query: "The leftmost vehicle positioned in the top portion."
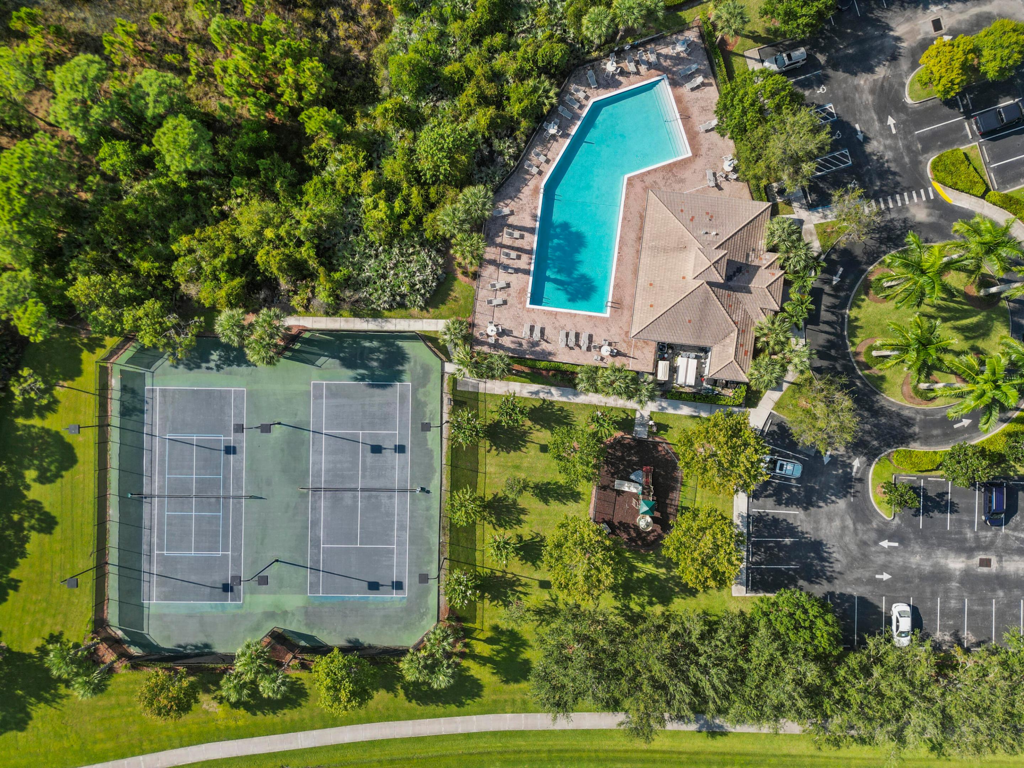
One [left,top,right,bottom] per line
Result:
[762,45,808,70]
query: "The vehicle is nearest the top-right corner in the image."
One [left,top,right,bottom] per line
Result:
[971,104,1024,136]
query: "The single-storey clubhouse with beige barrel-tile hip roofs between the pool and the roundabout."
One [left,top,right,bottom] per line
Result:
[631,188,784,382]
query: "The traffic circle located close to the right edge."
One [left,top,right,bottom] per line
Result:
[846,243,1012,408]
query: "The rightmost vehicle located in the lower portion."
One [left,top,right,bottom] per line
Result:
[980,481,1007,526]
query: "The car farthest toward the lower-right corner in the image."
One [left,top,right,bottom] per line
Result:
[889,602,912,646]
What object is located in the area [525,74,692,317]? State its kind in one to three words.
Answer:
swimming pool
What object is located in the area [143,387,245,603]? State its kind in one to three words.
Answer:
tennis court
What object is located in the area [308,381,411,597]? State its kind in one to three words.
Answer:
tennis court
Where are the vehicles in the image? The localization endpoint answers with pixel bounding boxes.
[889,602,912,646]
[763,455,802,477]
[980,481,1007,526]
[762,45,808,70]
[971,104,1024,136]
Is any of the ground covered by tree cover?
Yes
